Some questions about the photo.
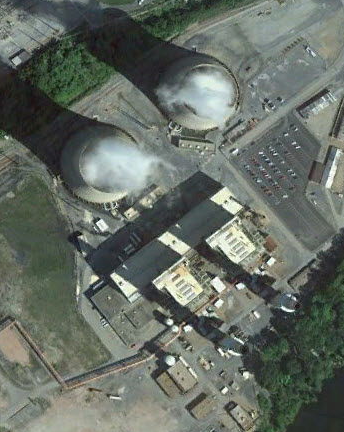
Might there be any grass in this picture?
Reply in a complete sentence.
Yes, there's grass in this view.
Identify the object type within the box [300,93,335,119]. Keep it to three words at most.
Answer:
building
